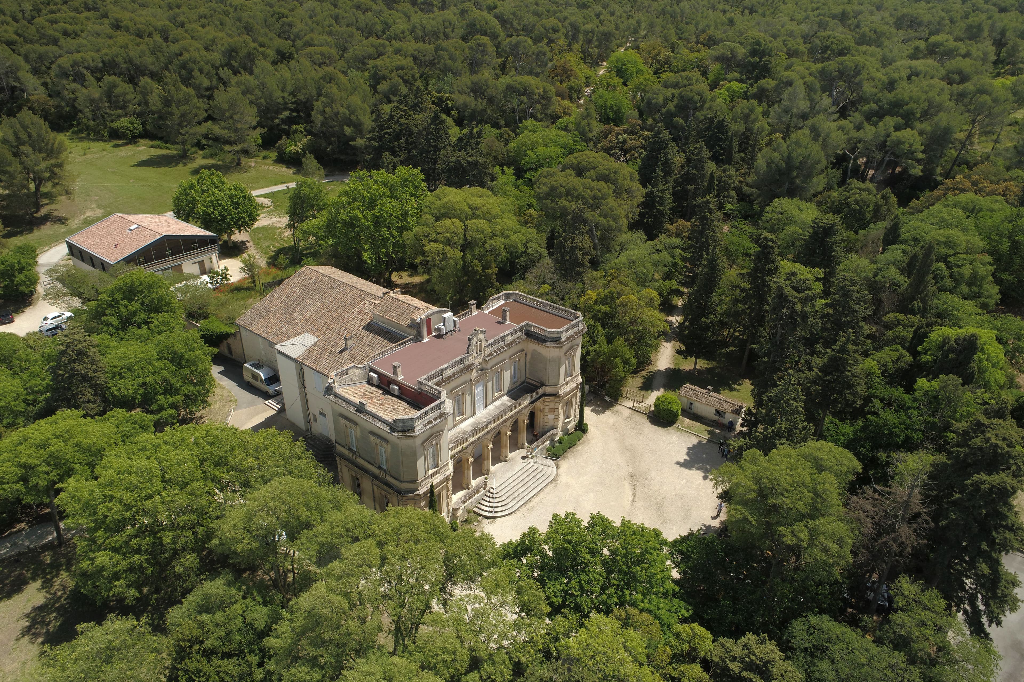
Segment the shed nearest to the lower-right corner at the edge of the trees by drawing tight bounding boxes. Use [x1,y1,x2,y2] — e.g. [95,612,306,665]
[677,380,753,430]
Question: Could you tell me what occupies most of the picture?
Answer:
trees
